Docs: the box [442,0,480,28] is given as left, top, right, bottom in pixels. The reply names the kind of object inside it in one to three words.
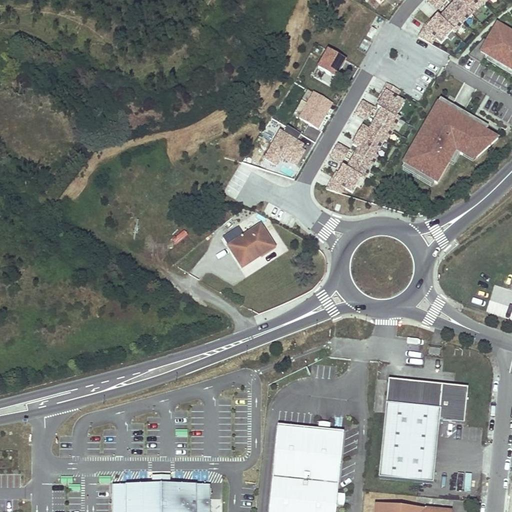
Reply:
house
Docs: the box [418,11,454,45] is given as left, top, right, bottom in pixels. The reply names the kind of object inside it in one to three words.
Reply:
house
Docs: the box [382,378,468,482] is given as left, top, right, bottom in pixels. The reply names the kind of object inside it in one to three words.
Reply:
building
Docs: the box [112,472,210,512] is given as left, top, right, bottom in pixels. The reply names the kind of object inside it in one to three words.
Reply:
building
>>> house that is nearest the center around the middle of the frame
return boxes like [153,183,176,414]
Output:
[223,221,276,268]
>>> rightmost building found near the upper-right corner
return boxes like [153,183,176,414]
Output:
[480,20,512,74]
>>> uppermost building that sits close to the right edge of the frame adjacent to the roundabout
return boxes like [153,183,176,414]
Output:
[402,97,499,188]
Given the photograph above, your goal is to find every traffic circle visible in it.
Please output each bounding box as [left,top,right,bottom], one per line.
[306,210,464,332]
